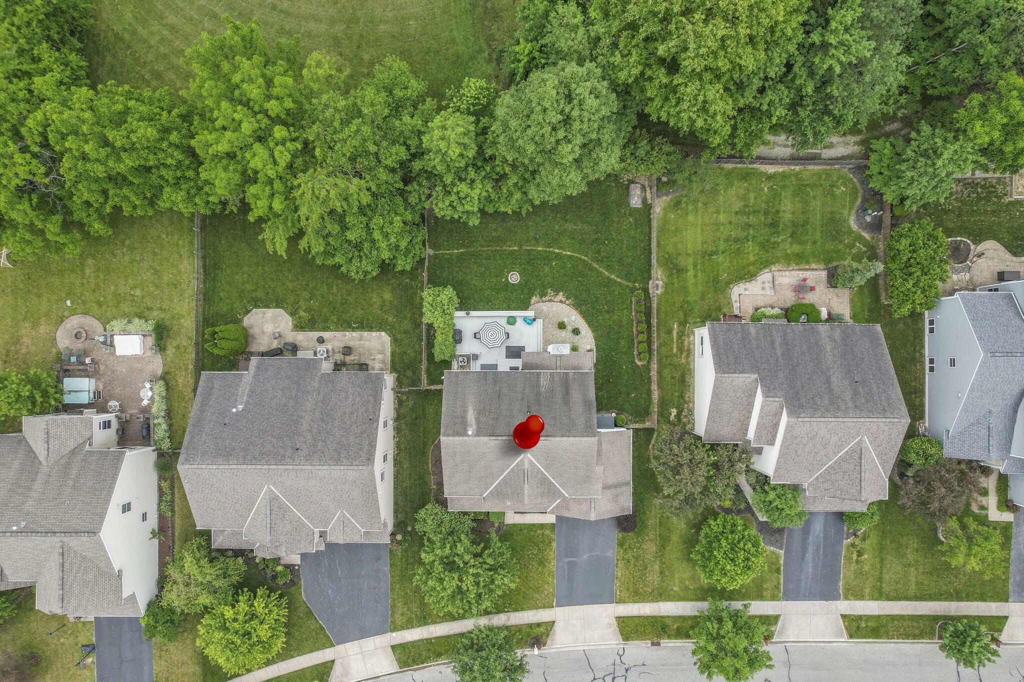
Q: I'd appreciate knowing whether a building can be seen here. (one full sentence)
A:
Yes, the image includes a building.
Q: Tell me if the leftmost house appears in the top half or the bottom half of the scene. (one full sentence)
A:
Seen from above, the leftmost house lies in the bottom half of the view.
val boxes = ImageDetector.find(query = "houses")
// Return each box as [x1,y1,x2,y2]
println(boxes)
[693,316,910,513]
[441,343,634,521]
[178,356,394,562]
[924,282,1024,511]
[0,412,160,618]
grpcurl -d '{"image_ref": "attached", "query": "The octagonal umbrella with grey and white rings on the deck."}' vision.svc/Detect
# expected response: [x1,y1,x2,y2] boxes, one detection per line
[480,322,504,347]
